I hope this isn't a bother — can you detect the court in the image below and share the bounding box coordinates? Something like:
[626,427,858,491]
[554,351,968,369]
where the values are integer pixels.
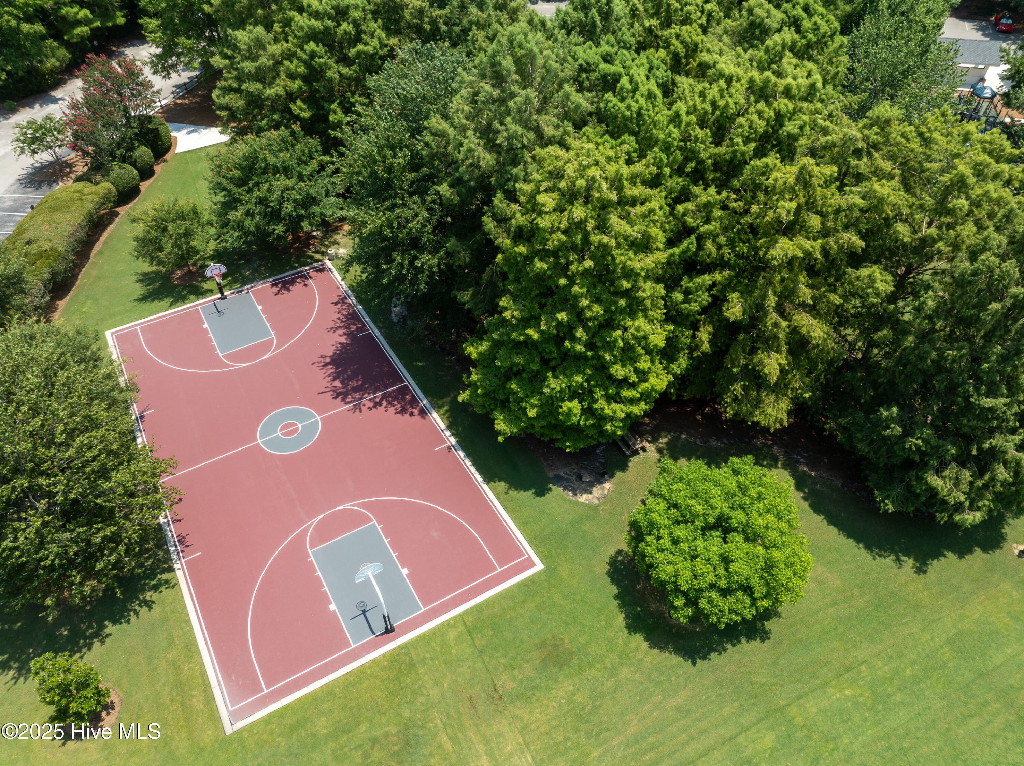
[104,259,543,735]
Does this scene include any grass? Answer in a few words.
Yes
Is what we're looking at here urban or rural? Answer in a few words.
rural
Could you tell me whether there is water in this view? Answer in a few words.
No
